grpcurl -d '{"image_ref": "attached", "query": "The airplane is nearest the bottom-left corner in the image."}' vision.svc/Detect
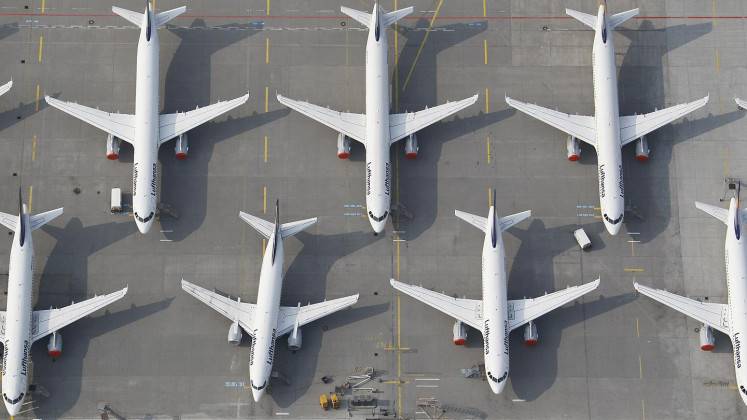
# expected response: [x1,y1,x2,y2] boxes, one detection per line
[0,187,126,416]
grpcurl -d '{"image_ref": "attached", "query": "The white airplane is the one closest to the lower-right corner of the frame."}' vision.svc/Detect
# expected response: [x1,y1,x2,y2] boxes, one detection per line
[633,182,747,411]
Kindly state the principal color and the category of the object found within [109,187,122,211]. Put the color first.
white vehicle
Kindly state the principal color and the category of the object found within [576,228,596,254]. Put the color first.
white vehicle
